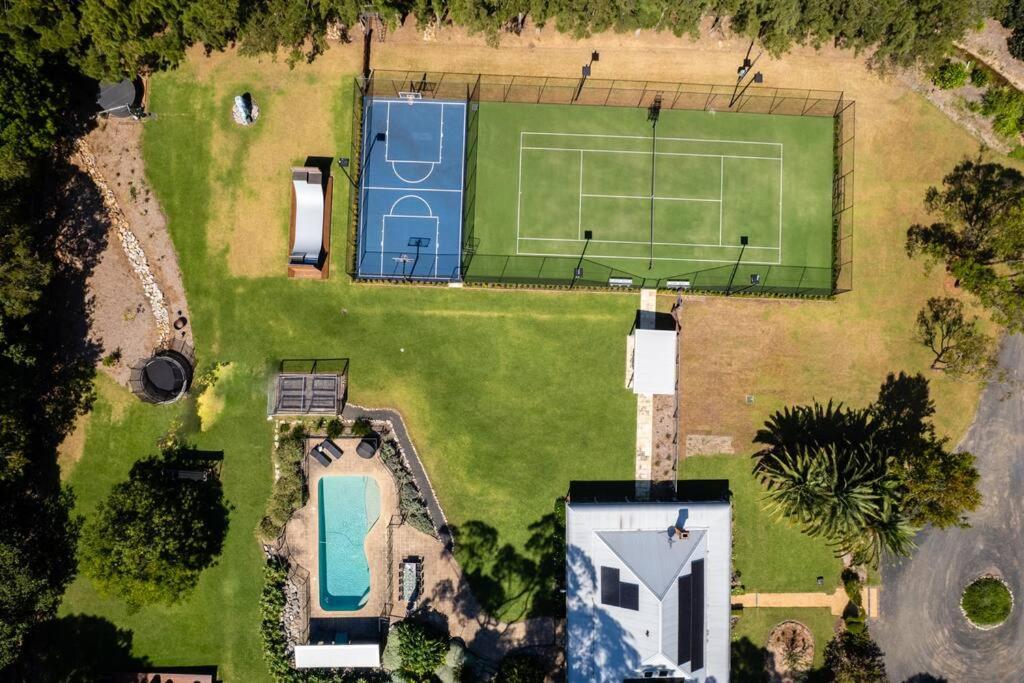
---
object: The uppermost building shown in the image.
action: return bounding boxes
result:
[627,326,677,394]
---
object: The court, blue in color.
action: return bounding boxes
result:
[356,96,467,281]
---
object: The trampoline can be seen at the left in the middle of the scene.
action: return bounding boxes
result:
[128,356,190,406]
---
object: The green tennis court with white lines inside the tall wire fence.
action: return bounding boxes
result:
[461,99,834,294]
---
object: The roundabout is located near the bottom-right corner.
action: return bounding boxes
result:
[959,575,1015,629]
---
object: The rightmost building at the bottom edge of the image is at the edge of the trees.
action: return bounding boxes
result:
[565,497,731,683]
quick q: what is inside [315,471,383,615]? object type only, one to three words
swimming pool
